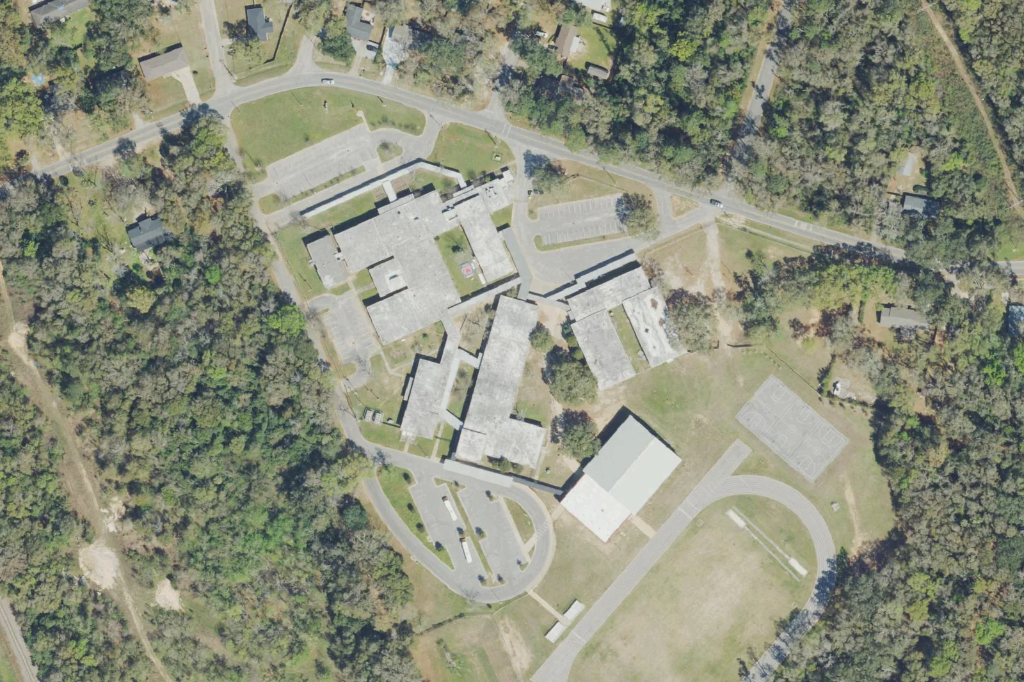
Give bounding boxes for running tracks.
[532,438,835,682]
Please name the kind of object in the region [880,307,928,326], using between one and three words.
house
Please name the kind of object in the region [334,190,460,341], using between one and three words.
building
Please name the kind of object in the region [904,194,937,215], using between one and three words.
house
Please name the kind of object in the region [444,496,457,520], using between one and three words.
vehicle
